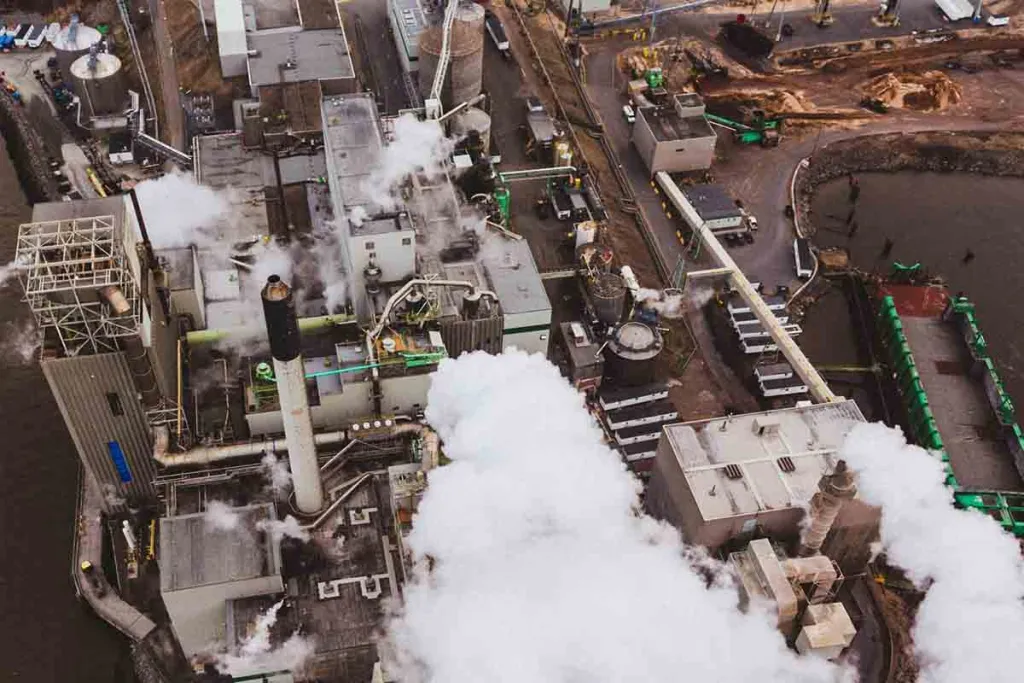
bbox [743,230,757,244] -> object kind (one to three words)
car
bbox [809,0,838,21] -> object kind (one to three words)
crane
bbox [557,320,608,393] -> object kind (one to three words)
house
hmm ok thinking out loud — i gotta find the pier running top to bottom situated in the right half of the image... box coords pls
[839,270,893,429]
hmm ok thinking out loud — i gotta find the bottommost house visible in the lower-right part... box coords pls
[796,598,858,682]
